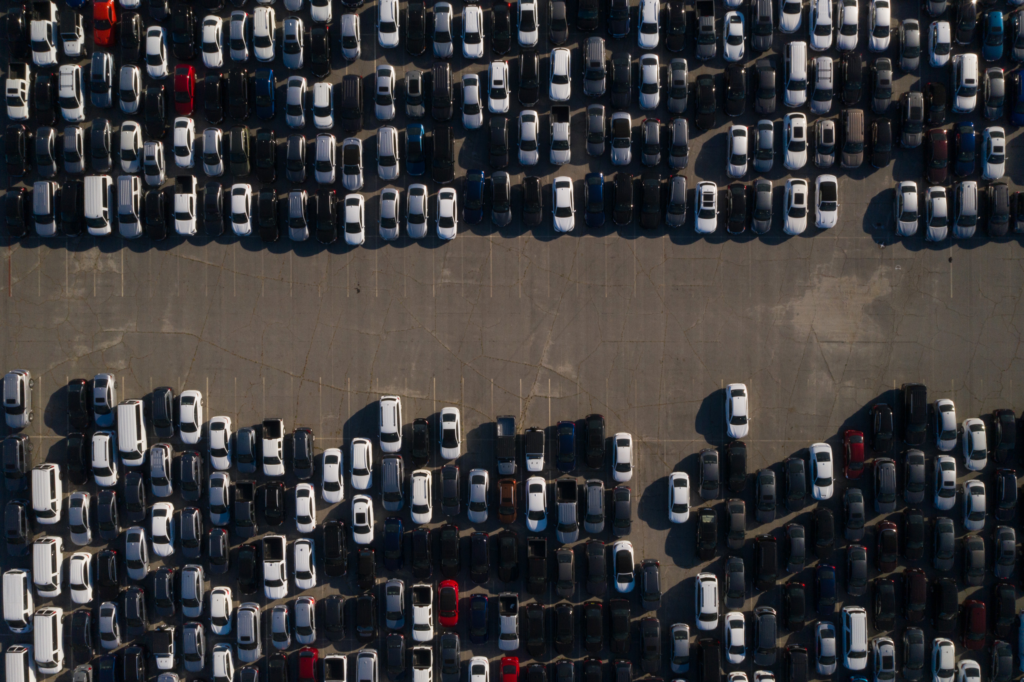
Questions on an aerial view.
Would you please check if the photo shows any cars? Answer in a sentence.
Yes, the image includes a car.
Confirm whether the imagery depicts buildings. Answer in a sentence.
No, there is no building in the image.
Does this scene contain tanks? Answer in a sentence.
No, this view has no tank in it.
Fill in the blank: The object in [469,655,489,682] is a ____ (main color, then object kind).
white car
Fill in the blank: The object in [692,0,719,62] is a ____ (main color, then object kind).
black truck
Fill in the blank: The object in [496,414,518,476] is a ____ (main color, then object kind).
black truck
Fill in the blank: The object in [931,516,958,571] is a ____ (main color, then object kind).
black car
